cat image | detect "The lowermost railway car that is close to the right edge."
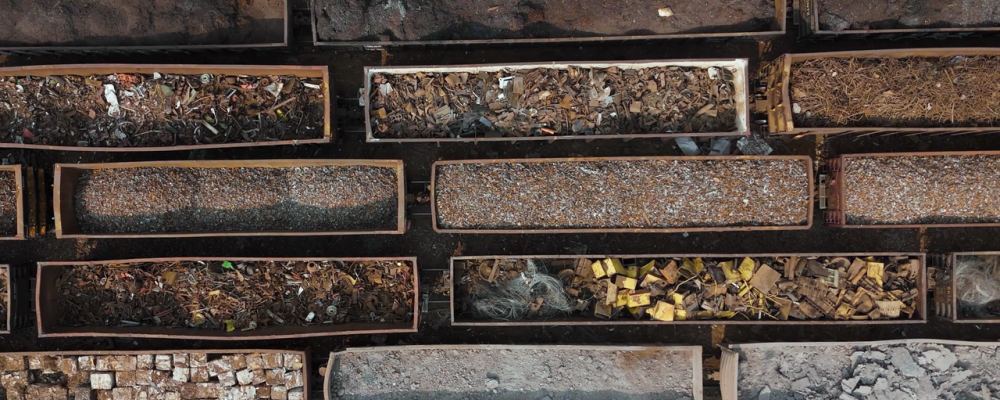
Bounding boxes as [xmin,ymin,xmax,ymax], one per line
[704,331,1000,400]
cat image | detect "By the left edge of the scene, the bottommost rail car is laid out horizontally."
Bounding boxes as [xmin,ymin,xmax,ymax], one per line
[0,338,327,400]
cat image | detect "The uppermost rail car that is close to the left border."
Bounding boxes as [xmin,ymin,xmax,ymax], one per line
[0,0,314,61]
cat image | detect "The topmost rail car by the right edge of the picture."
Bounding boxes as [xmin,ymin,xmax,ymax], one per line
[785,0,1000,49]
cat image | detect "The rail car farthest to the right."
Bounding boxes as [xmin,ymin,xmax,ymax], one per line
[911,246,1000,323]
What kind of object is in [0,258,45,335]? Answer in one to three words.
rail car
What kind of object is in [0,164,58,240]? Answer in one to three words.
rail car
